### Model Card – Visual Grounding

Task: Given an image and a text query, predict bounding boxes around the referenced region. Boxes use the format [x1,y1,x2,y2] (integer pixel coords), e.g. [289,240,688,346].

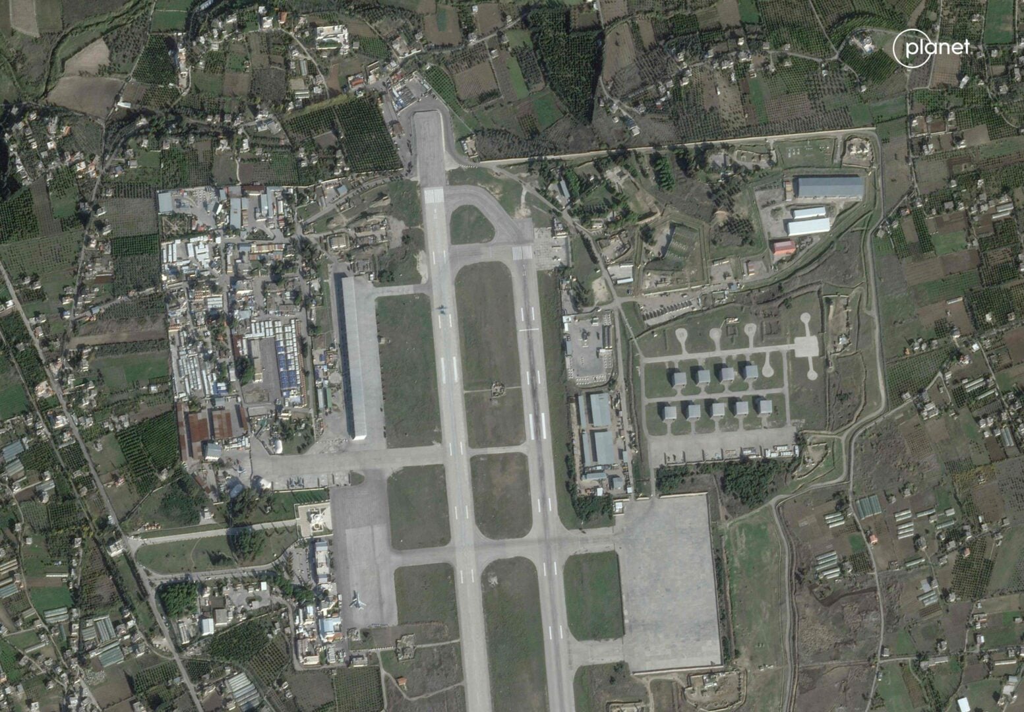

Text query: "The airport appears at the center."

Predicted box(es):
[221,72,819,712]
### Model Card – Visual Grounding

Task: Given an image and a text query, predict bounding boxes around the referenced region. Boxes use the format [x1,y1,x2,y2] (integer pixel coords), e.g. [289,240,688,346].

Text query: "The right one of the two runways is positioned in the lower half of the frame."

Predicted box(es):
[511,242,575,712]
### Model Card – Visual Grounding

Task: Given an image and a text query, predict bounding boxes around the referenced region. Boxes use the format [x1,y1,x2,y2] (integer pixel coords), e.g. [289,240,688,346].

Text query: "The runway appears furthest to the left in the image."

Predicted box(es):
[421,187,492,712]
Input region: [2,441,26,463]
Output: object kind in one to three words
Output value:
greenhouse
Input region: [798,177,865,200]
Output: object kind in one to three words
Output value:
hangar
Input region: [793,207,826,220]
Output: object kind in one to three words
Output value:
building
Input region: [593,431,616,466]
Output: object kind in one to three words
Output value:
building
